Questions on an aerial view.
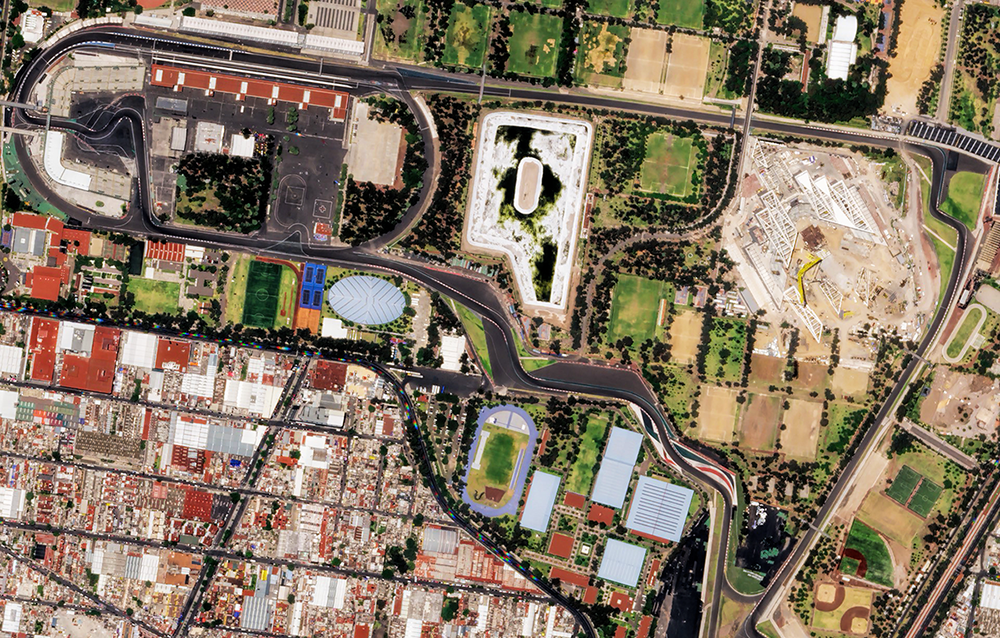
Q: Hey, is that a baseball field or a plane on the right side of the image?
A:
baseball field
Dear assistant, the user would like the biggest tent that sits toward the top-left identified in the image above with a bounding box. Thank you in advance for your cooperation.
[230,134,255,157]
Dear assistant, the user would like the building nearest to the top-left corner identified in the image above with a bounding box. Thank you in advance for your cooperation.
[20,8,48,42]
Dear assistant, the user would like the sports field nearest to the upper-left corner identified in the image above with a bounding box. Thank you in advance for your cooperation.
[129,278,180,313]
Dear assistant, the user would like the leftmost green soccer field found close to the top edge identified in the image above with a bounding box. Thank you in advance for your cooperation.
[441,3,490,66]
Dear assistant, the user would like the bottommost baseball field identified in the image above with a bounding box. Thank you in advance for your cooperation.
[811,581,874,636]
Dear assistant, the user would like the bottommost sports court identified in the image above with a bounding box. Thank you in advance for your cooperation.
[549,532,574,558]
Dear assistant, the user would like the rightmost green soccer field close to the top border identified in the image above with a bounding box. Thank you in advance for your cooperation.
[657,0,704,28]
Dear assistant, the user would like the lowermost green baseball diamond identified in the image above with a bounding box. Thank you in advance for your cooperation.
[839,517,899,589]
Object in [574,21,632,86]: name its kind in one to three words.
sports field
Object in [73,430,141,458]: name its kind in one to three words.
building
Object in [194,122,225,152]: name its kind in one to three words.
shed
